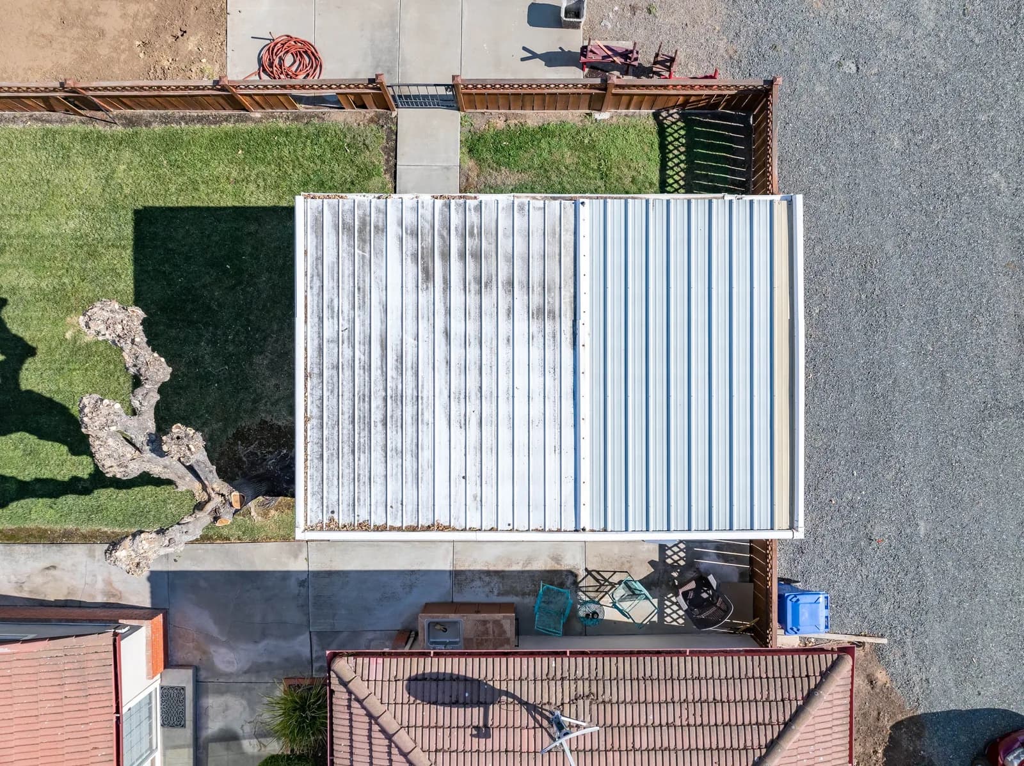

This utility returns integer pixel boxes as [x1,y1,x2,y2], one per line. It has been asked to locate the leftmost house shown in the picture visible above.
[0,607,167,766]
